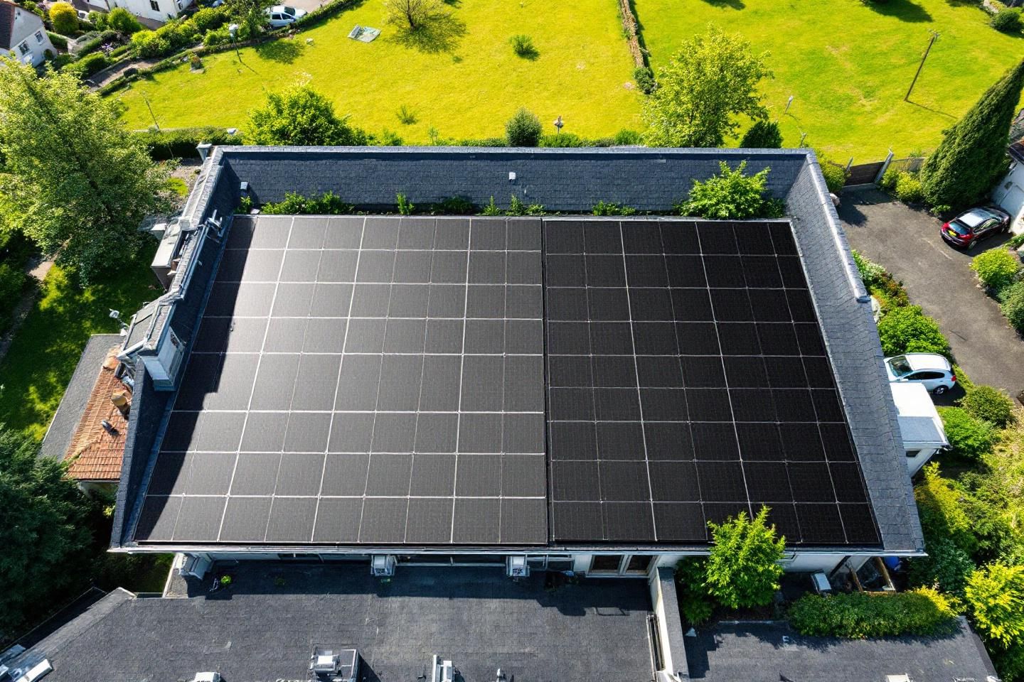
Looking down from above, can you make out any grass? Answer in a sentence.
Yes, grass shows up in the scene.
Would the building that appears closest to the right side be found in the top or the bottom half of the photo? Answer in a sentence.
Seen from above, the building that appears closest to the right side lies in the top half of the view.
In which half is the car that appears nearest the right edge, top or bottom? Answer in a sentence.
The top half of the photo is where the car that appears nearest the right edge is.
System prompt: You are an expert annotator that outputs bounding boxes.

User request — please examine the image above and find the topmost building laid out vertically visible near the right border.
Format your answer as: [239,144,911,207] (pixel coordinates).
[991,149,1024,231]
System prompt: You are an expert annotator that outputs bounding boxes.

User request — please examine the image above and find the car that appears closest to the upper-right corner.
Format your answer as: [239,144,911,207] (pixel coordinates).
[950,207,1014,242]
